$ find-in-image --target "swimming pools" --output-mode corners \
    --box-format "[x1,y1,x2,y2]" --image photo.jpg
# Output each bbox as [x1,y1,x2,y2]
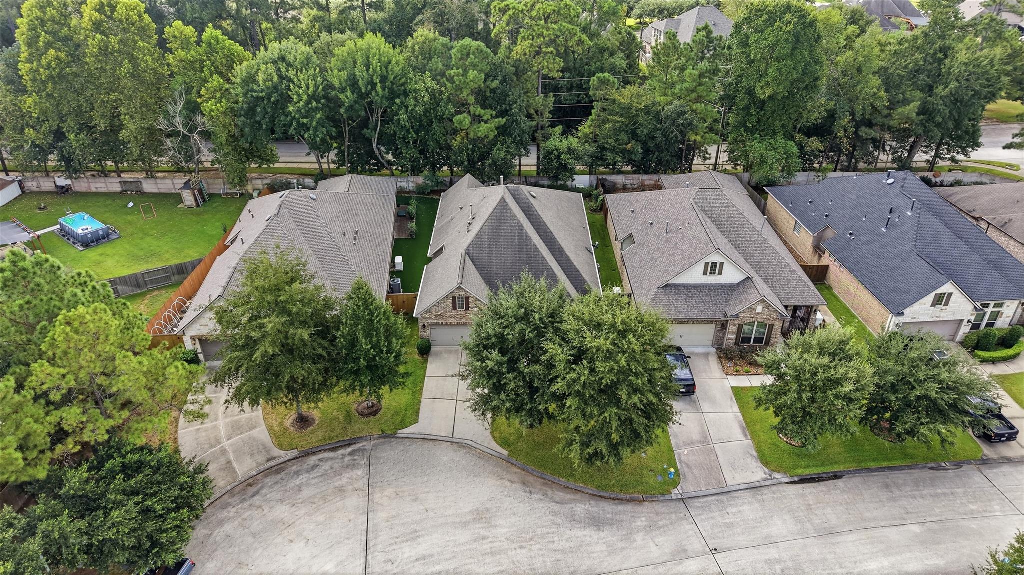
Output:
[57,212,112,248]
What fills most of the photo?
trees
